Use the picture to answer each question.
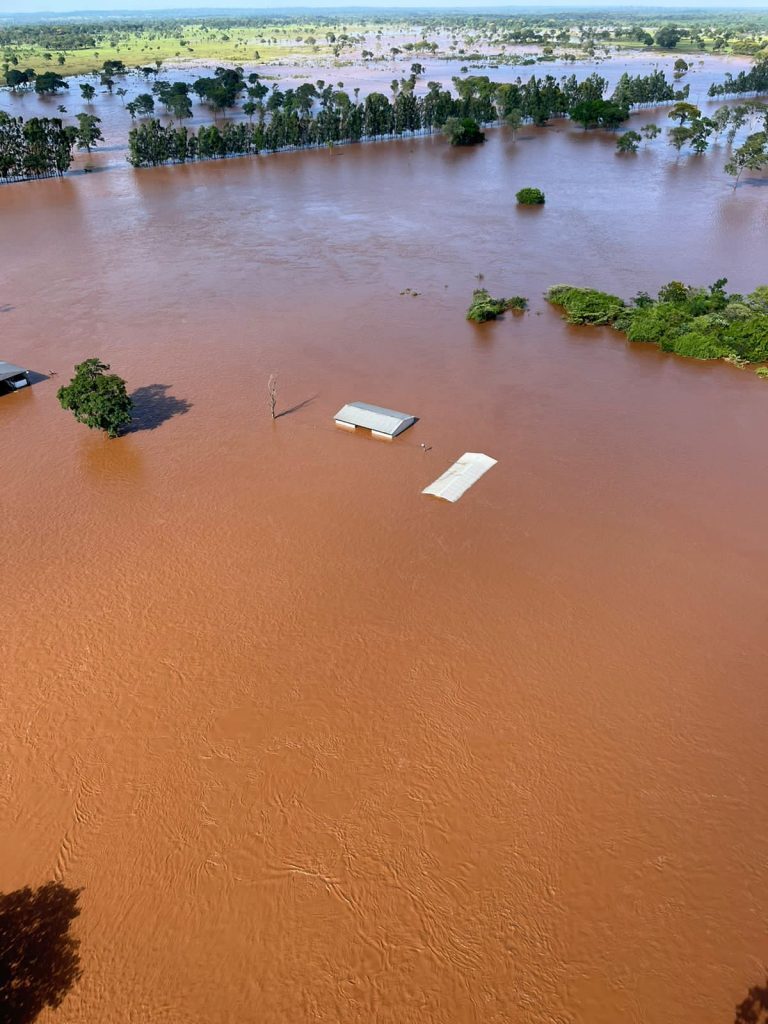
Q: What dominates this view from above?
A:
water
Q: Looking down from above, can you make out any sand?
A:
No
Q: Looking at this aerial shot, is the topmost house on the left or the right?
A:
left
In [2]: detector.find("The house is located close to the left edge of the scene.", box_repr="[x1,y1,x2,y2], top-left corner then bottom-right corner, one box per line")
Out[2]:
[0,361,29,390]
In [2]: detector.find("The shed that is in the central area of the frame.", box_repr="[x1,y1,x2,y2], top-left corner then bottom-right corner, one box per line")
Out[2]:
[333,401,415,439]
